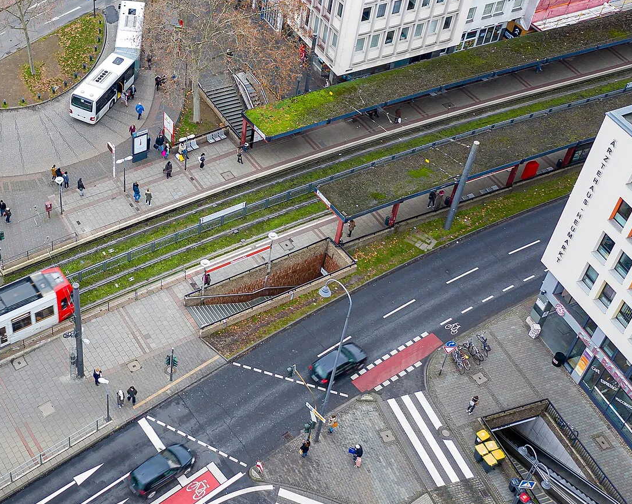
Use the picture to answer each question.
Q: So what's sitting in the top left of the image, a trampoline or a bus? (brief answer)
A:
bus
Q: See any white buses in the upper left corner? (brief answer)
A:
Yes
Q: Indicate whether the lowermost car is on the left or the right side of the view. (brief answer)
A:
left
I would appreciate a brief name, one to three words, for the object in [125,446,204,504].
car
